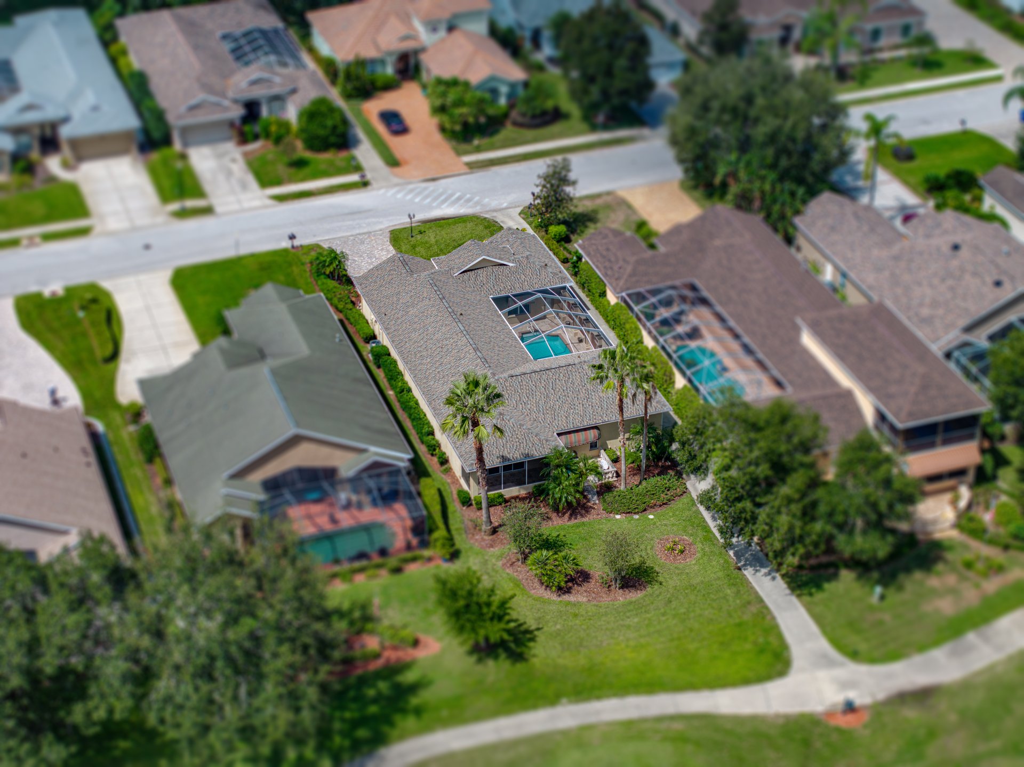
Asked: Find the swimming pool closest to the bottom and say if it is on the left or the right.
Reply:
left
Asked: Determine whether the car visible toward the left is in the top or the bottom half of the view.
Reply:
top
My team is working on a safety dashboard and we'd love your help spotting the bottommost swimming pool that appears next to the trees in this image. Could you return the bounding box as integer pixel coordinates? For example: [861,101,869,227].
[293,520,403,567]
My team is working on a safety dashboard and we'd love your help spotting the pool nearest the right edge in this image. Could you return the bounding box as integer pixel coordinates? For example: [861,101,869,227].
[662,340,754,402]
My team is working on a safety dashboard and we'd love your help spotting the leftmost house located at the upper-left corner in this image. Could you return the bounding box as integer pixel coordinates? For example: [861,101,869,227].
[0,0,143,173]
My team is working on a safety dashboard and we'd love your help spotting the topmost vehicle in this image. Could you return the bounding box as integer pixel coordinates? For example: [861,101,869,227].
[379,104,409,127]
